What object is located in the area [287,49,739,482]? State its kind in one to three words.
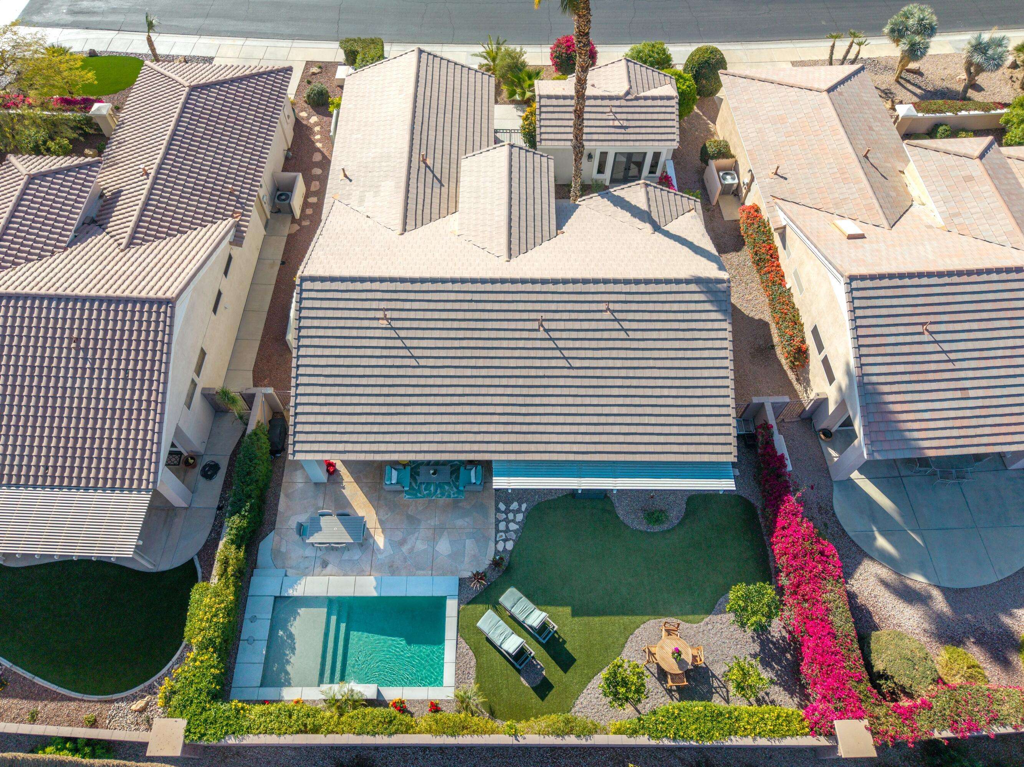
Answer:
house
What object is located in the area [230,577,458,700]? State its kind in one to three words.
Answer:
swimming pool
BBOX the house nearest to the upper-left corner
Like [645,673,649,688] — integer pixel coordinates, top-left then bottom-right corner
[0,58,301,508]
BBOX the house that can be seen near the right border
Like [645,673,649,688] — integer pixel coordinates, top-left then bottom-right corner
[717,61,1024,480]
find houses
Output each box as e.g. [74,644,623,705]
[287,49,739,482]
[0,58,301,508]
[717,61,1024,480]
